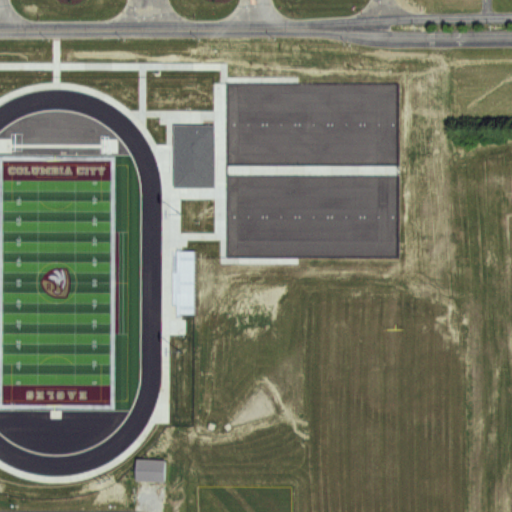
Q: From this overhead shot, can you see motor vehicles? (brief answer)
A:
No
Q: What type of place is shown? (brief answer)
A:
sports ground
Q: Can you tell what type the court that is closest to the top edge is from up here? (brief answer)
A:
tennis court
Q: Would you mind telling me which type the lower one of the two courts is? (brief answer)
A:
tennis court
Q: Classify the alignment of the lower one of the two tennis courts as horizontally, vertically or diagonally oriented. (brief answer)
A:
horizontally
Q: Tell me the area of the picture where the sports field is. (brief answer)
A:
left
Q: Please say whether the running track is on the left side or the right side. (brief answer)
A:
left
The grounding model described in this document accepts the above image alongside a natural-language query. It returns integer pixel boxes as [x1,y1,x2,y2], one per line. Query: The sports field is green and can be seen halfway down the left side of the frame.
[0,156,140,411]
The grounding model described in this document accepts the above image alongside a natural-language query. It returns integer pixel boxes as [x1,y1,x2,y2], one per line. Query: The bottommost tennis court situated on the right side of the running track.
[227,176,399,258]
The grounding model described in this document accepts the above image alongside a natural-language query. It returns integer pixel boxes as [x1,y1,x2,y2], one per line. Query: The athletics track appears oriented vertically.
[0,91,162,475]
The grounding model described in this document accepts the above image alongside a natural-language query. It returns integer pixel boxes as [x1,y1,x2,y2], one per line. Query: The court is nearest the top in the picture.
[227,84,399,166]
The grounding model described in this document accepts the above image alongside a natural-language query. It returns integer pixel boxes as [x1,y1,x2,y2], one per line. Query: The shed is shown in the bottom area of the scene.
[134,460,166,483]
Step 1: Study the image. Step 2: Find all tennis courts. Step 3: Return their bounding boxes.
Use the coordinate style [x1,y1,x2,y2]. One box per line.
[227,176,399,258]
[227,84,399,166]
